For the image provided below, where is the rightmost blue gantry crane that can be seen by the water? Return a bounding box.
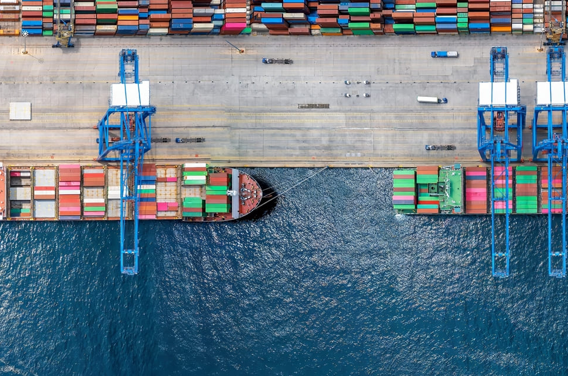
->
[516,49,568,282]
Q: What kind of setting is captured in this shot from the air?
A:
port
